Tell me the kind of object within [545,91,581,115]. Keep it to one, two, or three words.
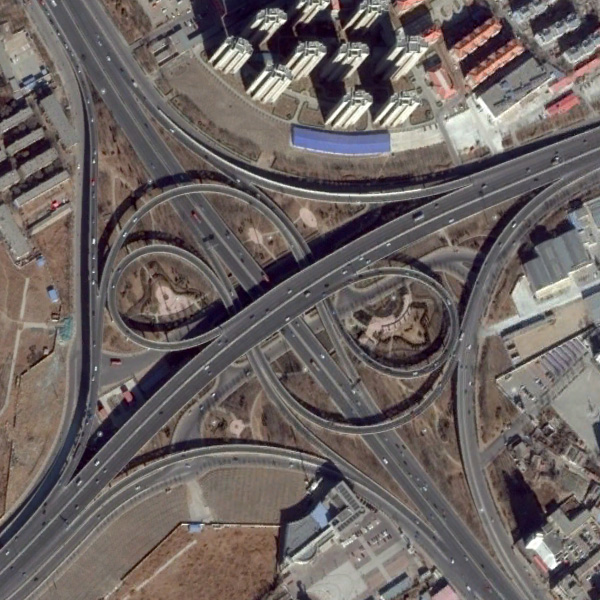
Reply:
shed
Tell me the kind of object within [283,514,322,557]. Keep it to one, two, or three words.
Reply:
building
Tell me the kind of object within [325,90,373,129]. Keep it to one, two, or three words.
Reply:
building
